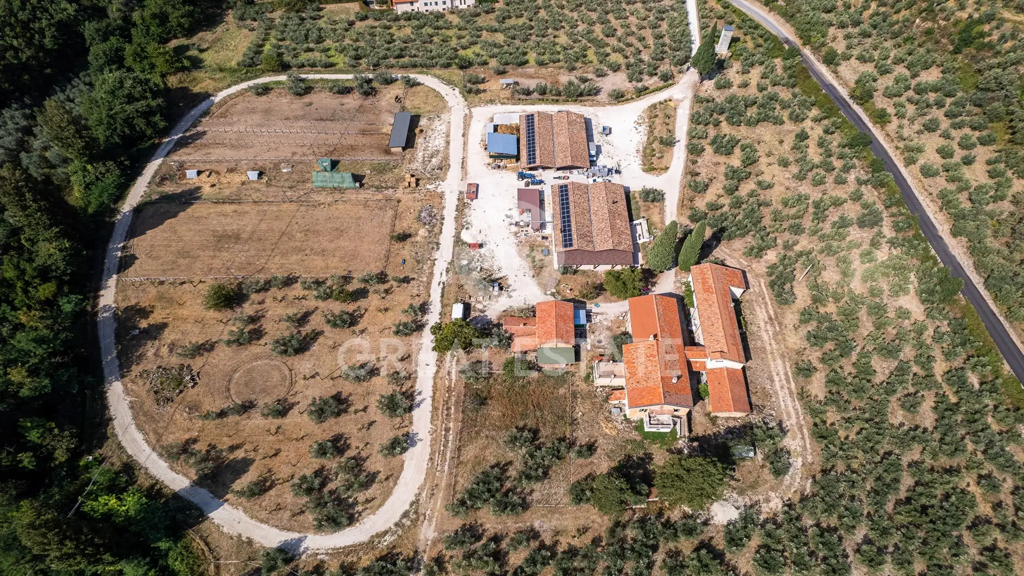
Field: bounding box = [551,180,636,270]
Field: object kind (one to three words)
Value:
barn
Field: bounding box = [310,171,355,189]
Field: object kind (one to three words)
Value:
greenhouse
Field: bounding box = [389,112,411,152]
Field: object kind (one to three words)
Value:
building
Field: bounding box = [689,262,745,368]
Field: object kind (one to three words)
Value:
house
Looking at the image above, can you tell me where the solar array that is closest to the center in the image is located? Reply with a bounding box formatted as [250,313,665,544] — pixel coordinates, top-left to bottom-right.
[557,184,571,247]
